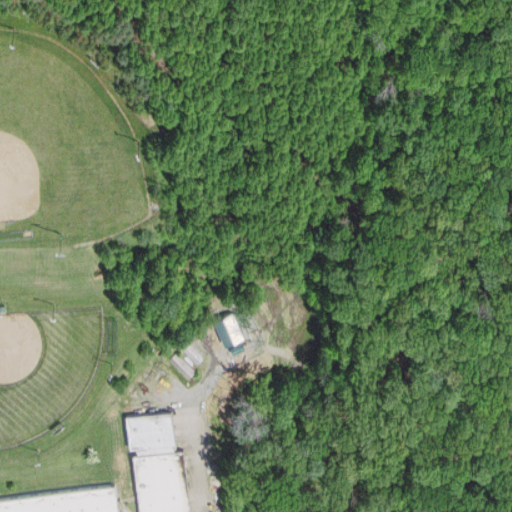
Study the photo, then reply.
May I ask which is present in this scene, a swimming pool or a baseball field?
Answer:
baseball field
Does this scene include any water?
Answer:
No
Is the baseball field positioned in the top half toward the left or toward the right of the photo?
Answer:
left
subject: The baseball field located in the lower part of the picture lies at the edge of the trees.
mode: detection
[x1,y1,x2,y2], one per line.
[0,307,104,449]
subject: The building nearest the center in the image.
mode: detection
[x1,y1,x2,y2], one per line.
[216,312,244,355]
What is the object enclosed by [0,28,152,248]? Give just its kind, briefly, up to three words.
baseball field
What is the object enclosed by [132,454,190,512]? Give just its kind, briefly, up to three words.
building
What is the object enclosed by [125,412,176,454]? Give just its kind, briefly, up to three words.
building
